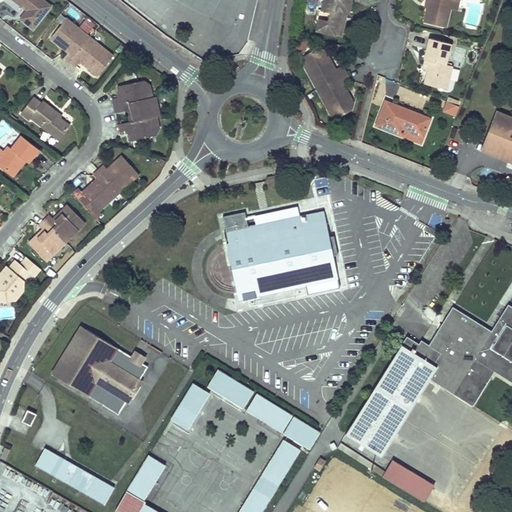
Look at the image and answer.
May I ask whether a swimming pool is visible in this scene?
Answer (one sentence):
Yes, a swimming pool can be made out from above.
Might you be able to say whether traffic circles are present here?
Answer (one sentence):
Yes, the picture does show a traffic circle.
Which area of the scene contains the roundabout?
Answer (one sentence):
Look in the top portion of the view to spot the roundabout.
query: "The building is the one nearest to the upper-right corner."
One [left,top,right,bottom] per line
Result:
[424,0,462,28]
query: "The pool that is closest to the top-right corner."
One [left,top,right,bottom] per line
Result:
[460,0,484,30]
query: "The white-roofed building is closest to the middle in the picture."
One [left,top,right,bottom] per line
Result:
[224,207,340,306]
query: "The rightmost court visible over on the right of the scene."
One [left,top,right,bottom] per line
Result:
[387,384,500,500]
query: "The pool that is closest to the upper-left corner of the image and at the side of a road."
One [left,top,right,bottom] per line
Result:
[62,4,85,25]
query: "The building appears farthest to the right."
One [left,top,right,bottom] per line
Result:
[482,110,512,162]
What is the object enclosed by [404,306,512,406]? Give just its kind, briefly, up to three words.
building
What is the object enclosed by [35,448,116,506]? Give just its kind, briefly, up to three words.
shed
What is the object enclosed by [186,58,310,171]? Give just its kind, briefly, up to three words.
roundabout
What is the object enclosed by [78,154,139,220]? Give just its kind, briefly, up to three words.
house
